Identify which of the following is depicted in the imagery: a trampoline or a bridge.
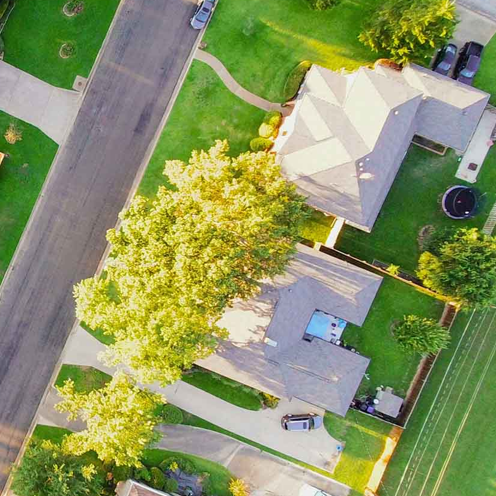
trampoline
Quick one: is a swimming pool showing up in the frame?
Yes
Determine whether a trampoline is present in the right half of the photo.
Yes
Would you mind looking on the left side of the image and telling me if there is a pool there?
No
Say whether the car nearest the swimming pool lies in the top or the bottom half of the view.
bottom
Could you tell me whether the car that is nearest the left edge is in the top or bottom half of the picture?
top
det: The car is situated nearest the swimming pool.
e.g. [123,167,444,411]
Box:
[281,413,324,433]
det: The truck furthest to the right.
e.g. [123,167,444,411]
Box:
[448,36,484,83]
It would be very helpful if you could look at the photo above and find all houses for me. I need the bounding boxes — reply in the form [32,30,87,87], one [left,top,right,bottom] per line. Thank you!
[118,477,168,496]
[195,232,383,417]
[271,63,490,233]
